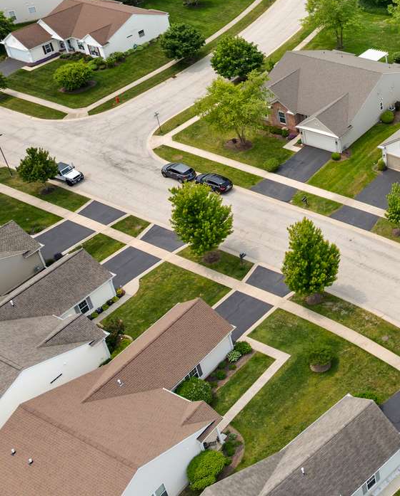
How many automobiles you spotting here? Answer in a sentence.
Altogether the scene contains 3 automobiles.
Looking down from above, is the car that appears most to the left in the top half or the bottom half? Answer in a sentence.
It is in the top half that the car that appears most to the left appears.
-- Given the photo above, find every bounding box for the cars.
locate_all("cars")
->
[51,158,84,187]
[156,161,199,185]
[191,173,235,196]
